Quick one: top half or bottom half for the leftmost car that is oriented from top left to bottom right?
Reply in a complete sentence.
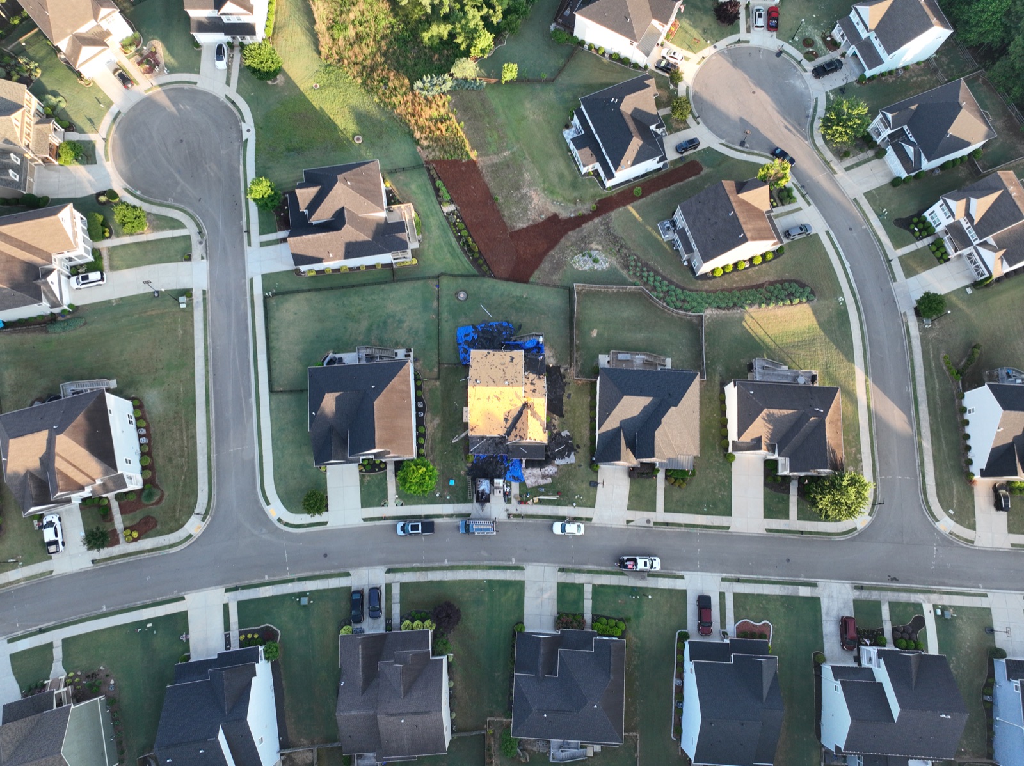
It is in the top half that the leftmost car that is oriented from top left to bottom right appears.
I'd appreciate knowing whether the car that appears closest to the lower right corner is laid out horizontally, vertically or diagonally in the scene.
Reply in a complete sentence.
In this picture, the car that appears closest to the lower right corner is oriented vertically.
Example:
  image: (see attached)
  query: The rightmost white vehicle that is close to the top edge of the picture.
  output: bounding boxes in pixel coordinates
[752,6,766,31]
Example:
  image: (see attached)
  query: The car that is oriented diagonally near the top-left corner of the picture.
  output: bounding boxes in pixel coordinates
[112,66,135,90]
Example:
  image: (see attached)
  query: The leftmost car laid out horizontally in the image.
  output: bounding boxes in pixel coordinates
[72,271,106,289]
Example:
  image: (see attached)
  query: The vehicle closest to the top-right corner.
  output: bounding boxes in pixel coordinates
[808,59,843,81]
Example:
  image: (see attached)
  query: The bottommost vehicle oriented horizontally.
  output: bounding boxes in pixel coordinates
[618,556,661,572]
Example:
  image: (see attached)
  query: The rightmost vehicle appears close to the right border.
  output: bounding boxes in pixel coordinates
[989,481,1011,514]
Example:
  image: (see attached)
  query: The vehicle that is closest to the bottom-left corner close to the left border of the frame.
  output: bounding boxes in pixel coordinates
[43,513,66,557]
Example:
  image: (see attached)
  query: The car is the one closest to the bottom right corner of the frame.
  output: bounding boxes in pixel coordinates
[838,614,858,651]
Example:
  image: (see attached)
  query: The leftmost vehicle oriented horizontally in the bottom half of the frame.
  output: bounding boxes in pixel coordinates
[396,520,436,536]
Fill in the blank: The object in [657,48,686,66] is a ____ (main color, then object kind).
white car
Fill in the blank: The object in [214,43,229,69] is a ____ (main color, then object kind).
white car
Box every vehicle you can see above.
[768,144,796,168]
[214,43,229,69]
[112,66,135,90]
[551,521,585,536]
[618,556,661,572]
[989,481,1011,514]
[657,48,686,66]
[350,589,365,625]
[765,9,779,32]
[72,271,106,289]
[43,513,66,557]
[396,520,436,536]
[752,6,766,31]
[459,519,496,535]
[838,614,858,651]
[694,593,713,637]
[808,59,843,81]
[780,222,813,242]
[367,585,383,620]
[671,136,703,157]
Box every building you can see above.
[958,365,1024,479]
[183,0,267,47]
[869,72,997,179]
[922,153,1024,280]
[553,0,685,67]
[594,348,700,471]
[822,646,975,766]
[655,177,784,275]
[284,160,419,274]
[990,659,1024,766]
[468,330,548,460]
[563,70,674,190]
[335,630,448,766]
[511,629,628,764]
[149,646,273,766]
[684,638,786,766]
[0,378,137,516]
[0,673,108,766]
[831,0,944,80]
[0,81,63,198]
[0,202,88,320]
[307,344,417,467]
[726,356,844,476]
[15,0,138,79]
